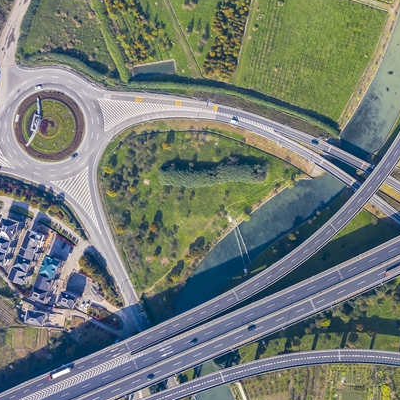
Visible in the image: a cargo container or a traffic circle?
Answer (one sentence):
Looking from above, you can make out a traffic circle.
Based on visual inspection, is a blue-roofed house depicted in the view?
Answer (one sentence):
Yes, a blue-roofed house can be made out from above.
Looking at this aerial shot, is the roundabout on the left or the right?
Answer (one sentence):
The roundabout sits on the left side.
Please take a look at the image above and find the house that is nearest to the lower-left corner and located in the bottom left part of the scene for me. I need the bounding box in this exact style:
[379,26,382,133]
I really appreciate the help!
[24,308,52,330]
